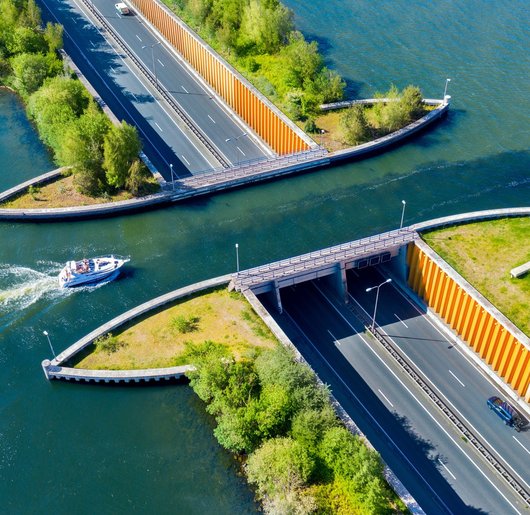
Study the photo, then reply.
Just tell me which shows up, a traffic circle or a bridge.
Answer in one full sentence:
Of the two, only a bridge appears.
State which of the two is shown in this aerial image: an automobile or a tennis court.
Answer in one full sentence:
Visible in the photo is an automobile.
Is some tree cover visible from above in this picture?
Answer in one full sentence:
Yes, there is tree cover in the image.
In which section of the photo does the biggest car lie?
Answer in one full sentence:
You can find the biggest car in the bottom right area of the picture.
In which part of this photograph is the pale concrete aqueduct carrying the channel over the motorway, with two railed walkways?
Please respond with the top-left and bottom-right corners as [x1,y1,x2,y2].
[159,143,427,314]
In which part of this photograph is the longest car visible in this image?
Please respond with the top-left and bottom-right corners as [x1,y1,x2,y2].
[487,396,526,432]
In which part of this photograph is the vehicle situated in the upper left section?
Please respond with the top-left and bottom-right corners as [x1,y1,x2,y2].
[117,1,131,13]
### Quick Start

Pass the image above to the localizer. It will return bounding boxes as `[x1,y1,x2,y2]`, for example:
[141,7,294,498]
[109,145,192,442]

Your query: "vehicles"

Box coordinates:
[117,1,131,13]
[487,396,526,432]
